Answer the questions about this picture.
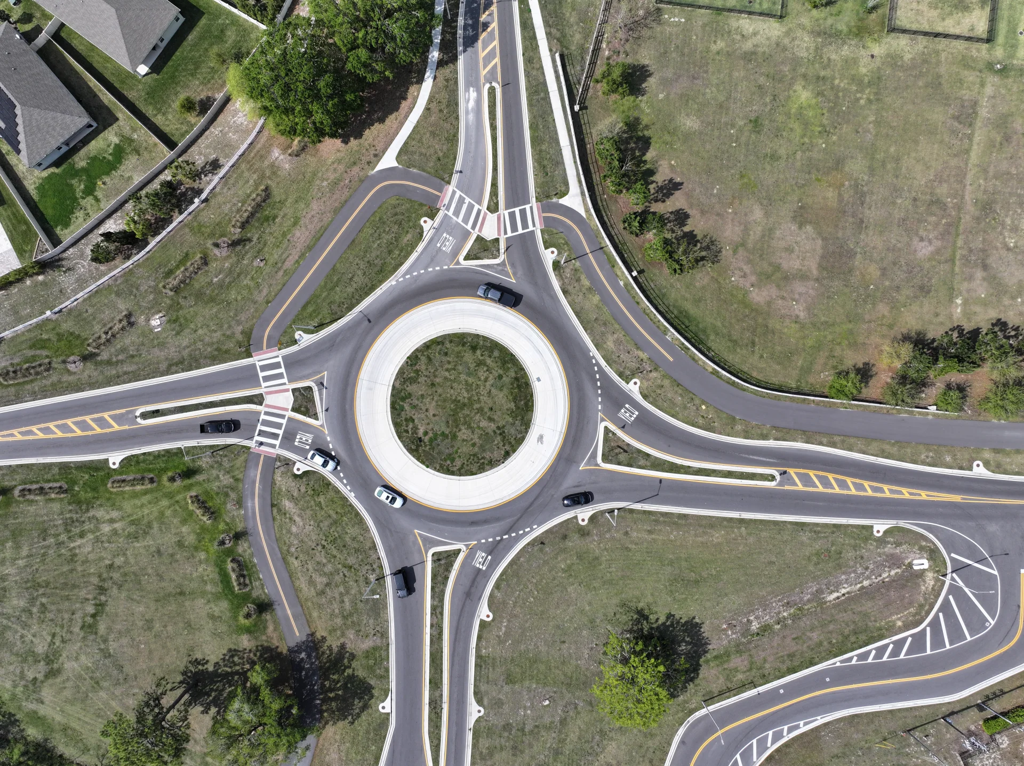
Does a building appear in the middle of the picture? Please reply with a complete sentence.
No, no building appears in the middle of the picture.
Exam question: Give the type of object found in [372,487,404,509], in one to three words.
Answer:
car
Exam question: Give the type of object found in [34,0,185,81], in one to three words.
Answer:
house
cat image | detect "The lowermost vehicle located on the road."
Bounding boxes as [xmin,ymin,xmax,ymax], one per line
[394,569,412,600]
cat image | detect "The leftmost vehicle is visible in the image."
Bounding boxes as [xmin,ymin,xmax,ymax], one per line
[197,420,234,436]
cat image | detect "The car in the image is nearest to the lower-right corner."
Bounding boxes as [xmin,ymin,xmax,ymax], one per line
[562,492,593,508]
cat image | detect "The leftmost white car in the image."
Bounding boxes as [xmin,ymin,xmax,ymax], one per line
[306,449,338,472]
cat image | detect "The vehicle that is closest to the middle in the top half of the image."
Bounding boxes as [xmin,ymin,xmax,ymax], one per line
[478,285,515,308]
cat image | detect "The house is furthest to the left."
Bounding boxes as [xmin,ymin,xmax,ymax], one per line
[0,7,100,170]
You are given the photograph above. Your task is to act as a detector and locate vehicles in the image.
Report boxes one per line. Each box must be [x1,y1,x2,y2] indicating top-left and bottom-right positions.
[197,420,234,436]
[372,487,404,509]
[478,285,515,308]
[394,569,412,600]
[562,492,593,508]
[306,449,338,472]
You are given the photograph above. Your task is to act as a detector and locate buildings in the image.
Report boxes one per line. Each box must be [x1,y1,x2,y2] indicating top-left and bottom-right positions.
[0,7,100,170]
[34,0,185,81]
